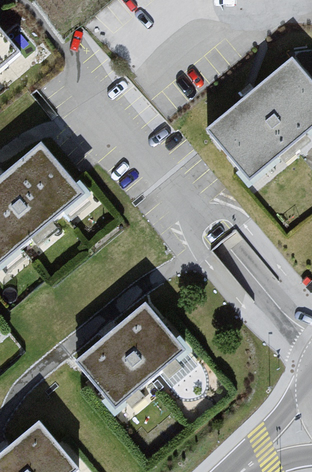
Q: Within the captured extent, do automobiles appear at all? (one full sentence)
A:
Yes, an automobile is visible in the scene.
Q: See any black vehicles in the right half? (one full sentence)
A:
Yes, in the right half there is a black vehicle.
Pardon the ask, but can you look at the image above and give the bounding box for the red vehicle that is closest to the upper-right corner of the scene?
[188,68,204,88]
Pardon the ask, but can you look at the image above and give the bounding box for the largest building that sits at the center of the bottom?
[76,302,199,416]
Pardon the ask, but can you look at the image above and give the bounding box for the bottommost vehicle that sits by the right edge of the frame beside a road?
[295,310,312,325]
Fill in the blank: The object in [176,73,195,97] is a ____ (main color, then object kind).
black car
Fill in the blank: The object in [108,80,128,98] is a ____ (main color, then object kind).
white car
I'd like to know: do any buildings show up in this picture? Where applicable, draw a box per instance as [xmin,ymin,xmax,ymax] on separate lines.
[0,420,80,472]
[206,56,312,188]
[76,302,199,416]
[0,28,22,70]
[0,142,93,272]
